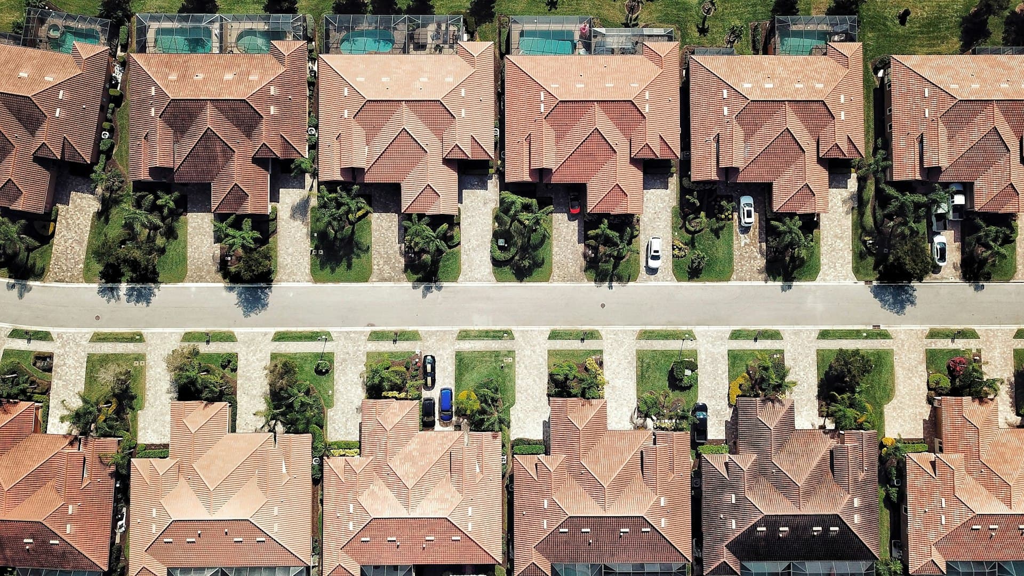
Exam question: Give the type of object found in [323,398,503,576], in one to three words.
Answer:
house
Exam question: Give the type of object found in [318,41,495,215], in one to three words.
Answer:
house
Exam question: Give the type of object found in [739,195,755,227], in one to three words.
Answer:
car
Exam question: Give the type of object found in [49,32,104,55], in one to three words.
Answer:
swimming pool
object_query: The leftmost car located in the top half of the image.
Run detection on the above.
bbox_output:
[567,188,582,217]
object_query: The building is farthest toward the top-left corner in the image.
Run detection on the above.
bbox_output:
[0,41,116,215]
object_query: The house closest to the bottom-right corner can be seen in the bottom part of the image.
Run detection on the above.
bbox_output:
[899,396,1024,575]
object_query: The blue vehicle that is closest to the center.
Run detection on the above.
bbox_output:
[438,388,453,422]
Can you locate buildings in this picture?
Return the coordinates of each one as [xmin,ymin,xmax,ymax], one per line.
[323,398,503,576]
[513,397,692,576]
[0,41,116,215]
[318,41,495,215]
[700,396,881,576]
[689,42,865,214]
[128,40,308,215]
[899,396,1024,575]
[0,398,123,571]
[505,41,680,215]
[129,400,313,576]
[884,49,1024,213]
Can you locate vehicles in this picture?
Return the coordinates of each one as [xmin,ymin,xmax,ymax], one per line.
[567,188,582,217]
[932,196,950,233]
[421,397,436,428]
[647,236,662,268]
[947,183,967,220]
[930,235,948,267]
[438,388,453,422]
[693,401,709,442]
[421,354,436,388]
[739,195,755,227]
